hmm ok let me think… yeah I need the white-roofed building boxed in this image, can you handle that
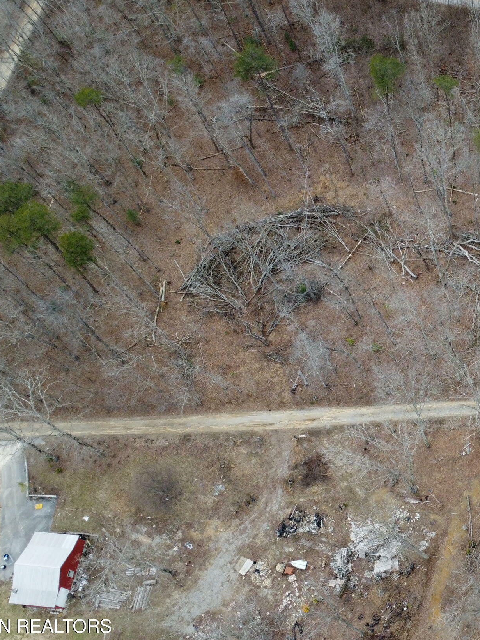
[8,533,85,610]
